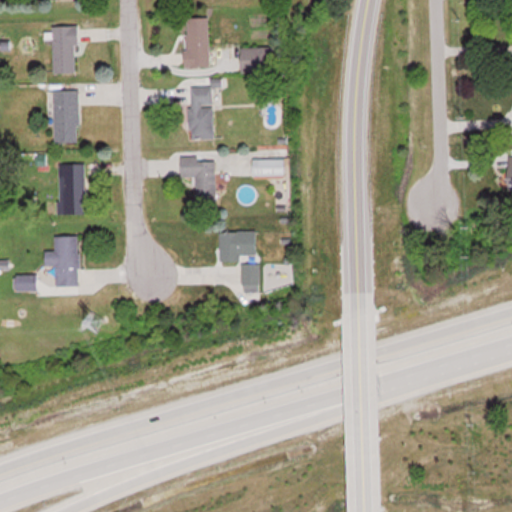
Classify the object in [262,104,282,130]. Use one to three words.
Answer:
swimming pool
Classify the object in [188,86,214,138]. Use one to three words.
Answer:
house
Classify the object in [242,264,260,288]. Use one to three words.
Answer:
building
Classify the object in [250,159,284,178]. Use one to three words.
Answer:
shed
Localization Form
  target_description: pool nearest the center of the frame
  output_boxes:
[234,184,258,206]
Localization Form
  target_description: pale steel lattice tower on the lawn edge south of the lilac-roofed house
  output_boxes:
[80,308,106,334]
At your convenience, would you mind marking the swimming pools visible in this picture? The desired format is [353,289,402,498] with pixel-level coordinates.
[262,104,282,130]
[234,184,258,206]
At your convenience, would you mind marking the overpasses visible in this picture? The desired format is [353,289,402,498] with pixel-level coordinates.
[341,302,380,466]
